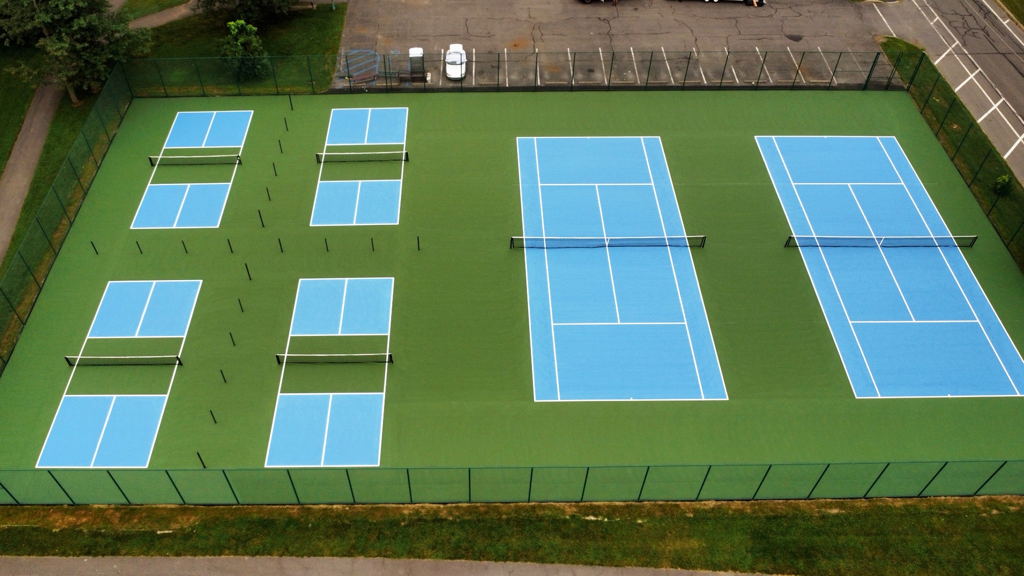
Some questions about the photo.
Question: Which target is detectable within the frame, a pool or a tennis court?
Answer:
tennis court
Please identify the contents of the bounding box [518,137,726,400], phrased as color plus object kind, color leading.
blue tennis court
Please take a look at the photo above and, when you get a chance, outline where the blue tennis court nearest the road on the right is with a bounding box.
[755,135,1024,397]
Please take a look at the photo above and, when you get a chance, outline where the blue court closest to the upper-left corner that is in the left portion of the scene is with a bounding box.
[131,110,253,229]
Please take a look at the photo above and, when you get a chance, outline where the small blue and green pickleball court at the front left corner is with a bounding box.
[35,280,202,468]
